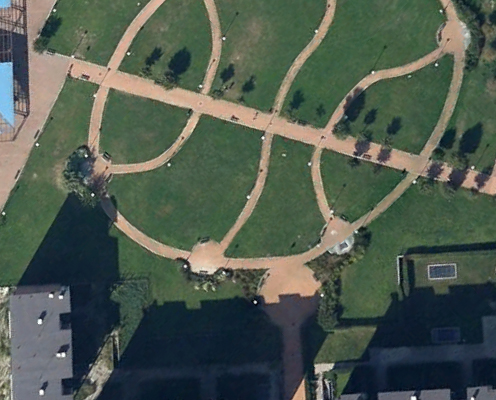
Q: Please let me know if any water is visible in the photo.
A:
No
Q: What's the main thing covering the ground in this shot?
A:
grass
